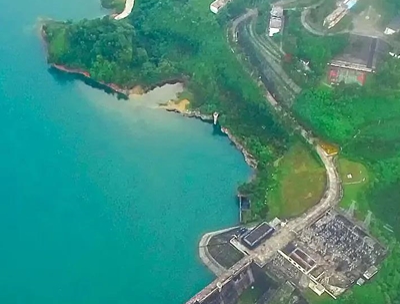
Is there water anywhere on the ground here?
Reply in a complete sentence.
Yes, the picture does contain water.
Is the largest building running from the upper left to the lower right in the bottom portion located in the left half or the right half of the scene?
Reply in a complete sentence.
You can find the largest building running from the upper left to the lower right in the bottom portion on the right side of the picture.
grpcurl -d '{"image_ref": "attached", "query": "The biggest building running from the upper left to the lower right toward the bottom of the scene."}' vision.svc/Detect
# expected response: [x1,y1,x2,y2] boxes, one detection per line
[279,245,327,280]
